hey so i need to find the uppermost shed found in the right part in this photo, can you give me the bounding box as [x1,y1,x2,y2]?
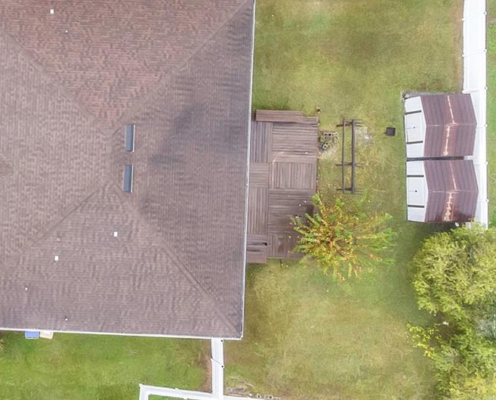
[404,91,482,157]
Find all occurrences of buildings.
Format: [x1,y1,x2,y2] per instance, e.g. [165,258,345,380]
[0,0,256,341]
[405,159,483,222]
[404,91,482,157]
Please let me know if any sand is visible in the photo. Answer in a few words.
No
